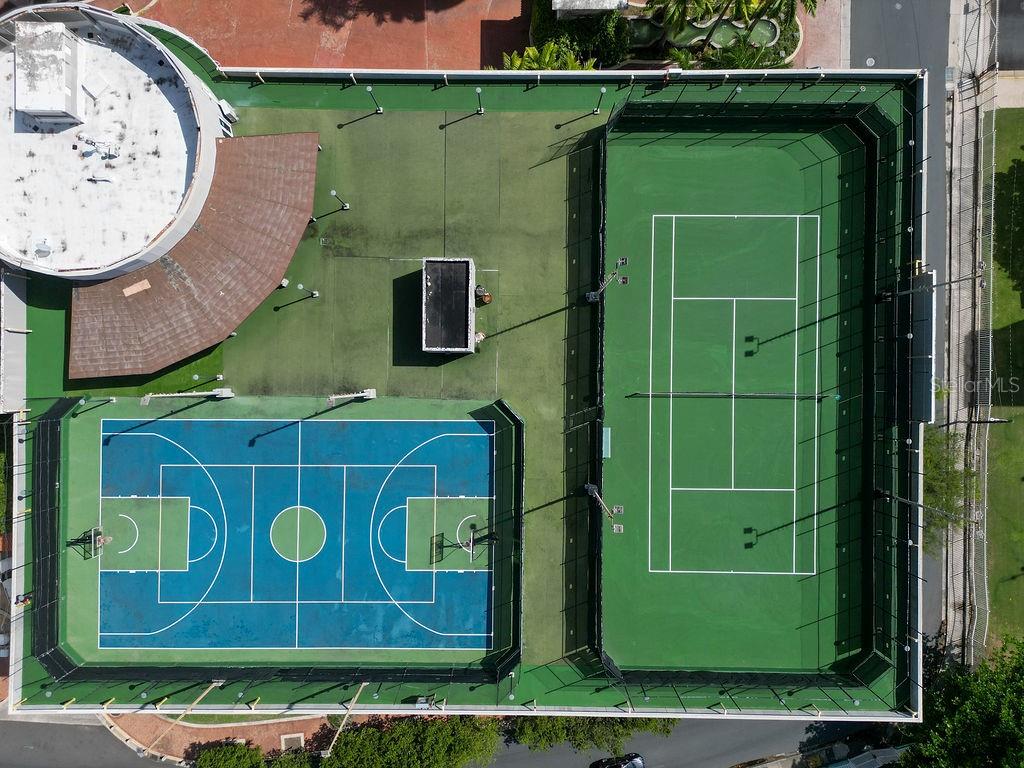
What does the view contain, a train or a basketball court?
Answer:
basketball court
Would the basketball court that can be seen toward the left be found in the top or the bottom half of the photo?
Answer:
bottom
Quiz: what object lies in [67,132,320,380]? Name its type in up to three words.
building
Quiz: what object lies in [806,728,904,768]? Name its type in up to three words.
shed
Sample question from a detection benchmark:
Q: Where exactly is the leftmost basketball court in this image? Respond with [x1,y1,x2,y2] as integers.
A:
[57,397,522,667]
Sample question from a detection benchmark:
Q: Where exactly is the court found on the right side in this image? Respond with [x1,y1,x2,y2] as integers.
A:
[599,119,873,669]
